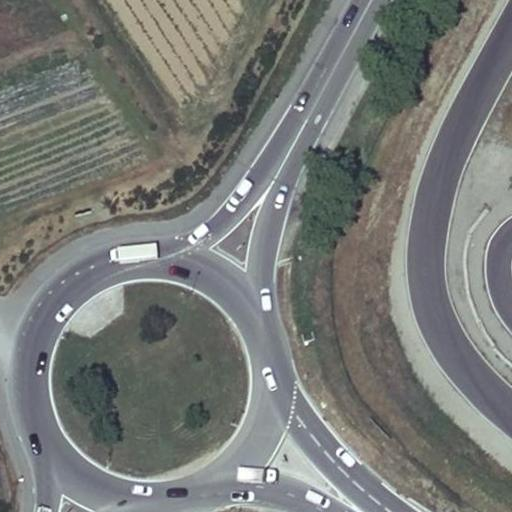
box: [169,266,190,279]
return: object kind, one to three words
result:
vehicle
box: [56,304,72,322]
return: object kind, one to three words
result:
car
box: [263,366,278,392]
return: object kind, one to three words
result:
car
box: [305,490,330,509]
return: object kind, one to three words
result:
vehicle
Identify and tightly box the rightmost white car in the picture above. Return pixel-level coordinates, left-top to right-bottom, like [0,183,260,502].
[334,448,354,468]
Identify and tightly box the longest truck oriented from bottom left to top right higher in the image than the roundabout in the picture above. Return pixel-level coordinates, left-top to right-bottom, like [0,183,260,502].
[228,178,253,213]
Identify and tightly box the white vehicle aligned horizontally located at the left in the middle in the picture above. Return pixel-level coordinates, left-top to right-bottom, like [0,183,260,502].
[110,243,159,264]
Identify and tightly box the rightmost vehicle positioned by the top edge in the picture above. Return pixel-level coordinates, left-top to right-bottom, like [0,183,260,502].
[342,4,357,26]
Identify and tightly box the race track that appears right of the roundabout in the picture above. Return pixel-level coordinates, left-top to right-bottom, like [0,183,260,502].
[406,0,512,438]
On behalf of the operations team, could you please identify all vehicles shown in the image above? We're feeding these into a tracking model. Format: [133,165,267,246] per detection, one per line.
[334,448,354,468]
[238,468,278,483]
[342,4,357,26]
[274,186,288,210]
[167,487,188,498]
[260,288,272,312]
[169,266,190,279]
[263,366,278,392]
[295,91,310,112]
[188,224,208,244]
[110,243,159,264]
[305,490,330,509]
[30,433,41,455]
[56,304,72,322]
[232,491,254,502]
[228,178,253,213]
[36,352,47,376]
[132,486,152,496]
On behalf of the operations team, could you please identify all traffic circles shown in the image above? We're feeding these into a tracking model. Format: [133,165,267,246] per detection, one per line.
[25,254,277,506]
